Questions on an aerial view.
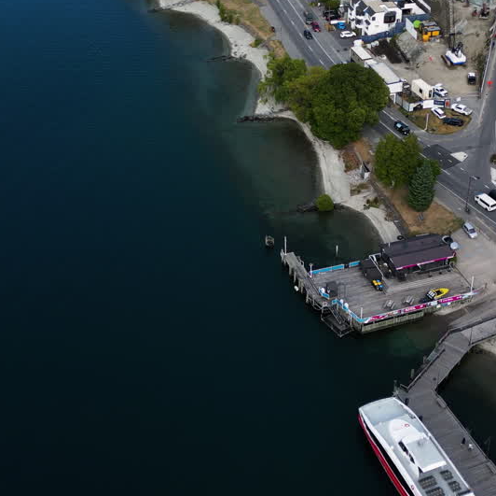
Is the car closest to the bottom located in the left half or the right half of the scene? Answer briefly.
right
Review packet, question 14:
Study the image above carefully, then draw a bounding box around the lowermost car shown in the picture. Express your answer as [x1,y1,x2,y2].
[460,217,482,237]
